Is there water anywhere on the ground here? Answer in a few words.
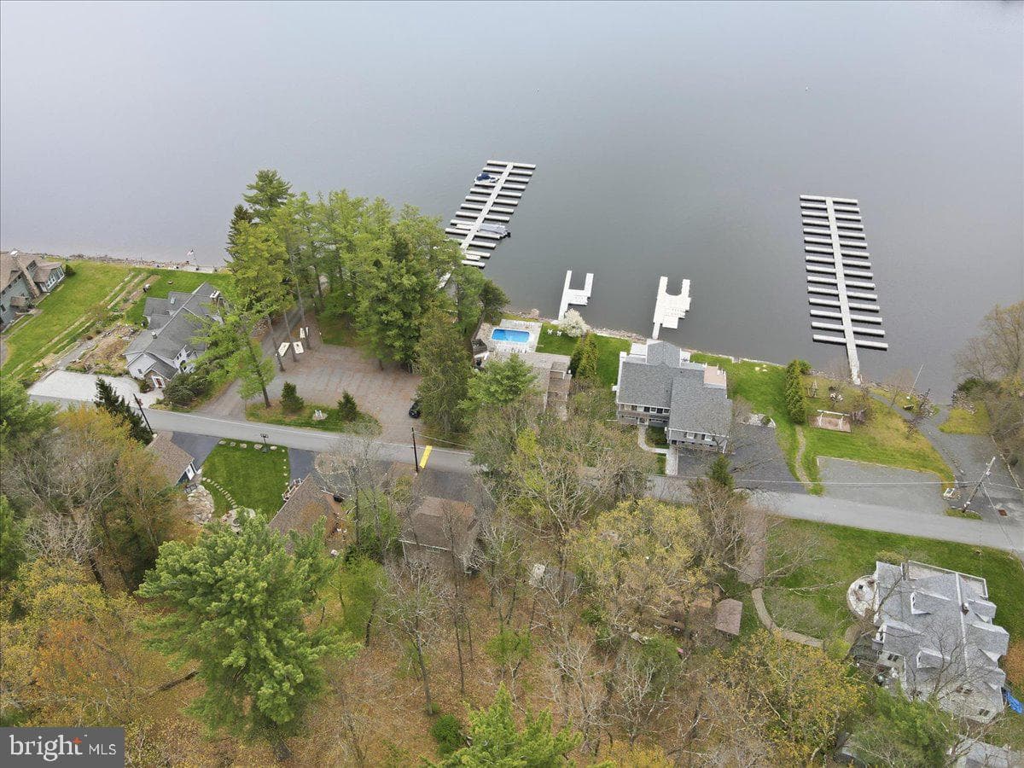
Yes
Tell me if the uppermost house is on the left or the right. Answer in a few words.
left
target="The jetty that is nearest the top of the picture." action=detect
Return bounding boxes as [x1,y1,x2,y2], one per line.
[440,158,537,285]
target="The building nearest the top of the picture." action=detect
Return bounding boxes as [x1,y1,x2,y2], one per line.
[0,245,70,329]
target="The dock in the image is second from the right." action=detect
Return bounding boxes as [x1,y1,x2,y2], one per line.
[653,276,691,341]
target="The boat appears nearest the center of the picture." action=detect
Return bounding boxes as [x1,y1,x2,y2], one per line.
[479,224,511,236]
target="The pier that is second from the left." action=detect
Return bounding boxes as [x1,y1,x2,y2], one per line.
[558,271,594,321]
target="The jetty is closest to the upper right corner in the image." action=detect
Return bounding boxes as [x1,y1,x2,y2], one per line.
[799,195,889,379]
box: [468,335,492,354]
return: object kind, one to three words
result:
gazebo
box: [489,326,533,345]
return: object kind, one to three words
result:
swimming pool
